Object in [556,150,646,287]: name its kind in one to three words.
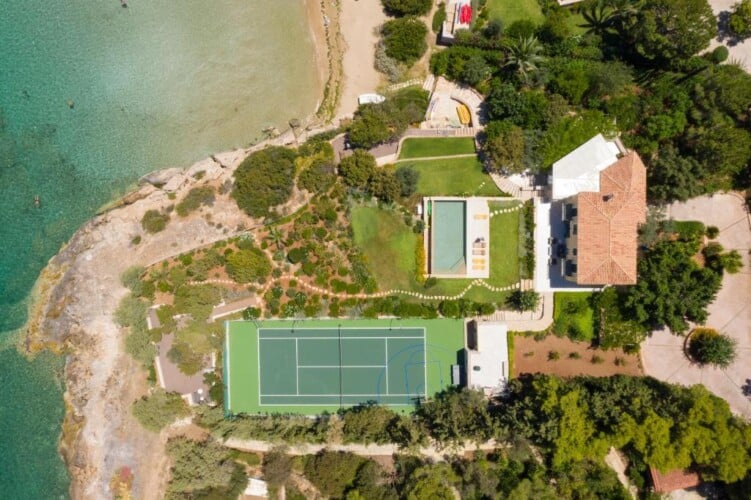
house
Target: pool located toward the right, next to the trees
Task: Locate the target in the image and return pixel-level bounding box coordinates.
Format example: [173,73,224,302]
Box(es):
[423,194,511,278]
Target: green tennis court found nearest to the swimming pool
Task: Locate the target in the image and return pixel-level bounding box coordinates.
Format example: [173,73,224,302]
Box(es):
[230,320,466,415]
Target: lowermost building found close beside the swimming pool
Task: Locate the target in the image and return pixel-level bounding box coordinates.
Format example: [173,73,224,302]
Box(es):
[463,316,508,391]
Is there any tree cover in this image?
Yes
